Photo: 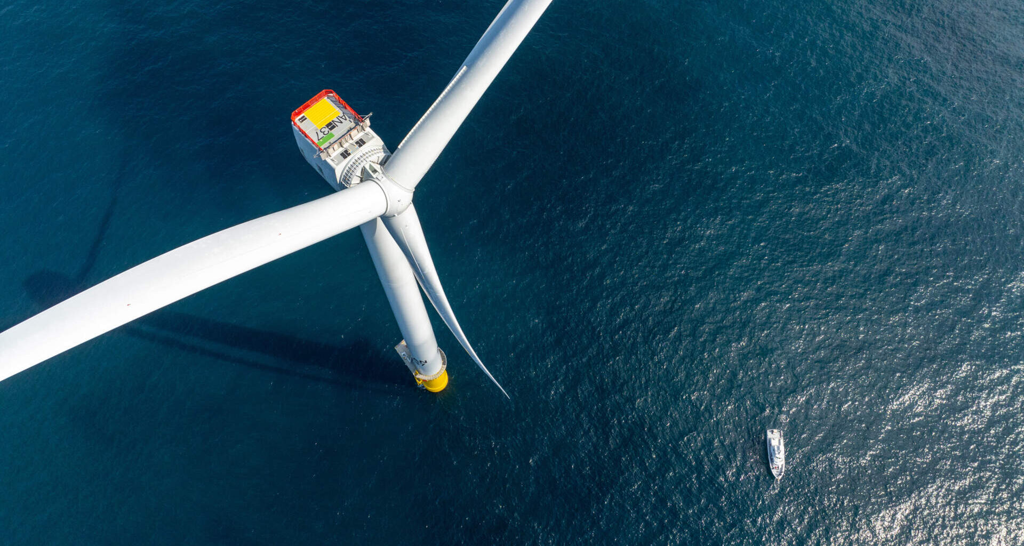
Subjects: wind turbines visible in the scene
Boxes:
[0,0,553,406]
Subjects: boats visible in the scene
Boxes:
[770,429,787,482]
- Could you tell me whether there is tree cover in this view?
No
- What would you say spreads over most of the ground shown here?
water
